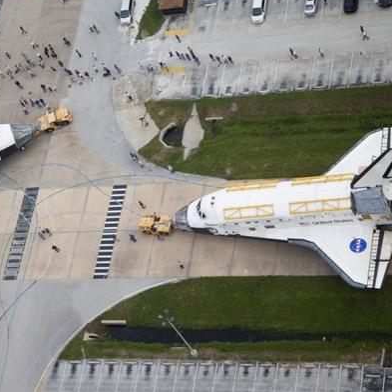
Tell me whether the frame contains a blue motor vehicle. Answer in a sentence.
No, the frame has no blue motor vehicle in it.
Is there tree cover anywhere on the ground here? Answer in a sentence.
No, no tree cover is visible.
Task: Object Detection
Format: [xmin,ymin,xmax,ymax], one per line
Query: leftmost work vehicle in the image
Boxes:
[38,106,74,137]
